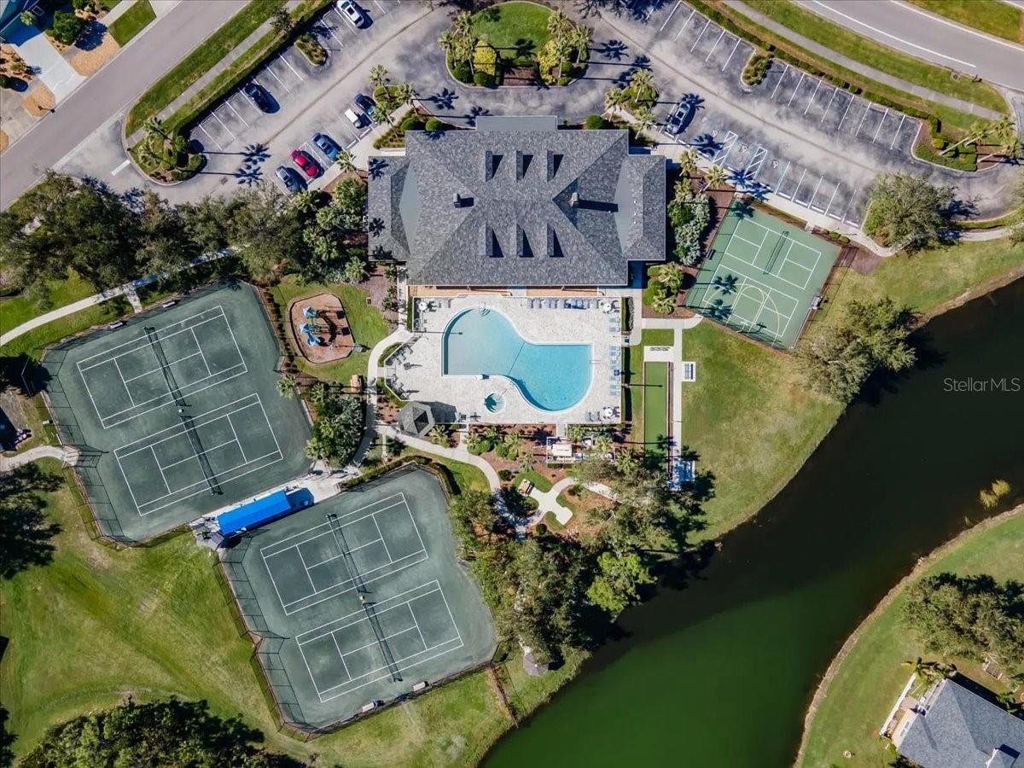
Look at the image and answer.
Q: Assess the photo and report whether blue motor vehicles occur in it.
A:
Yes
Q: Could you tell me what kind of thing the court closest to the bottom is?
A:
tennis court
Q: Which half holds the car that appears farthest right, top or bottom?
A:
top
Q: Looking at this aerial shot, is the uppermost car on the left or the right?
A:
left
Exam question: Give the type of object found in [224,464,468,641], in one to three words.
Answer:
tennis court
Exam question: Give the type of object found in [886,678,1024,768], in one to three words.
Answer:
house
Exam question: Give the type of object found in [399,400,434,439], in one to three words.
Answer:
gazebo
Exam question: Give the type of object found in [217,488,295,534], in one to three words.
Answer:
building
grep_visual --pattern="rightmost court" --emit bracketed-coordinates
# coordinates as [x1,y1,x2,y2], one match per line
[686,200,841,348]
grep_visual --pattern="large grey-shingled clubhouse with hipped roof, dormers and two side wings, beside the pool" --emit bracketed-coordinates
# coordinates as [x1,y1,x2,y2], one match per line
[368,116,666,287]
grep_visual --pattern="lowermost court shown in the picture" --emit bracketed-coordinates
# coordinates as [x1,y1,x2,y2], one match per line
[252,556,497,730]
